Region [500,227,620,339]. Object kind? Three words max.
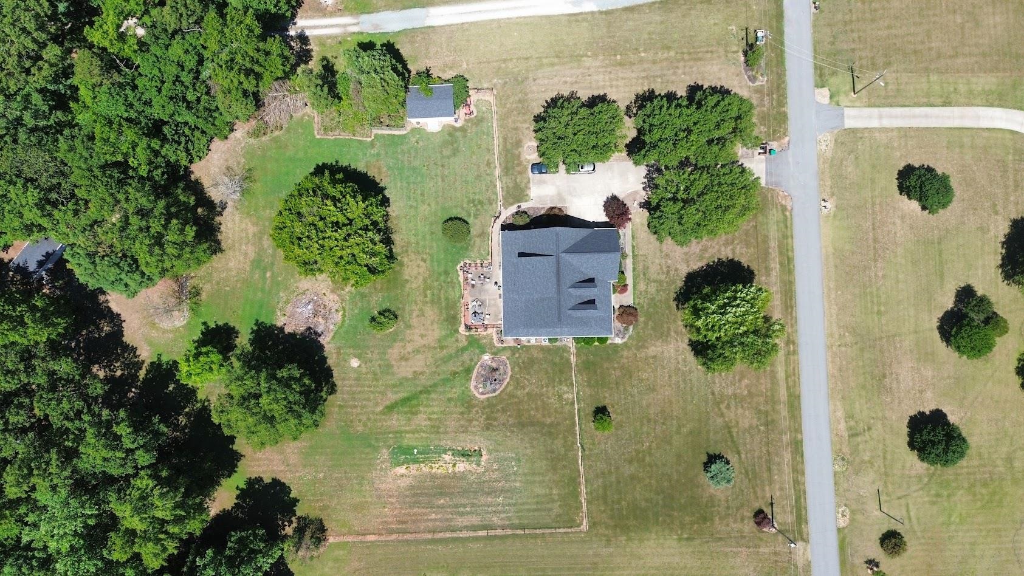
house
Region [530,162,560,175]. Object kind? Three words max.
vehicle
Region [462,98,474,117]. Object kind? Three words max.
vehicle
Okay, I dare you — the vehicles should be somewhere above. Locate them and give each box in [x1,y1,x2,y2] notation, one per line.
[462,98,474,117]
[530,162,560,175]
[568,163,596,175]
